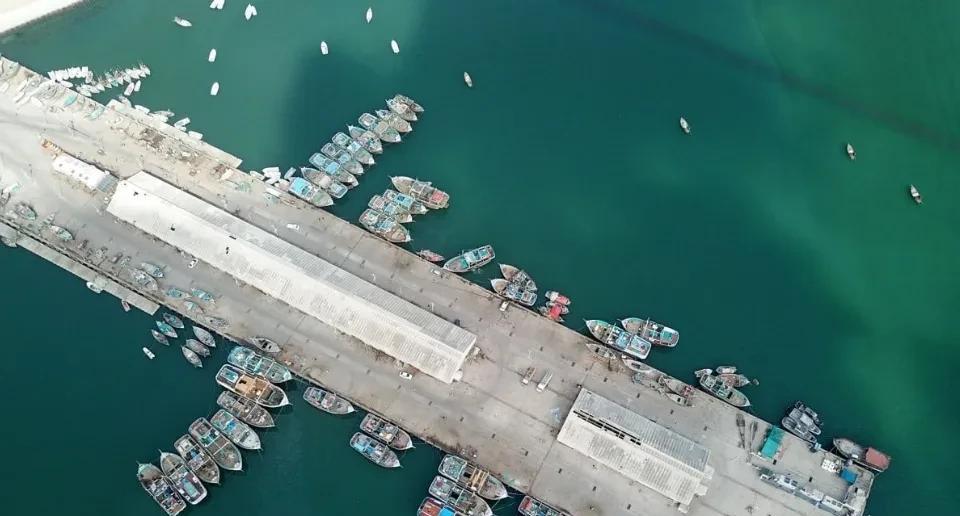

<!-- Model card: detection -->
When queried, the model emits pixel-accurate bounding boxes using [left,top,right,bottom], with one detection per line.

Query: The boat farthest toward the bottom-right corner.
[832,435,894,473]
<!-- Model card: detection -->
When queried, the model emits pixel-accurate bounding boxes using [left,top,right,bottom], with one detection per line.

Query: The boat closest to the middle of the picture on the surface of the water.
[441,243,495,270]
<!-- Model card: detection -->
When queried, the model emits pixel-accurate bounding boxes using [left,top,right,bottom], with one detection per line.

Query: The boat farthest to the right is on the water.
[910,184,924,205]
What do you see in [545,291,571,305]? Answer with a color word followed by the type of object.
white boat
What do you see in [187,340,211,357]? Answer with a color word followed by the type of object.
gray boat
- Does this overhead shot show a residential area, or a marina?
marina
